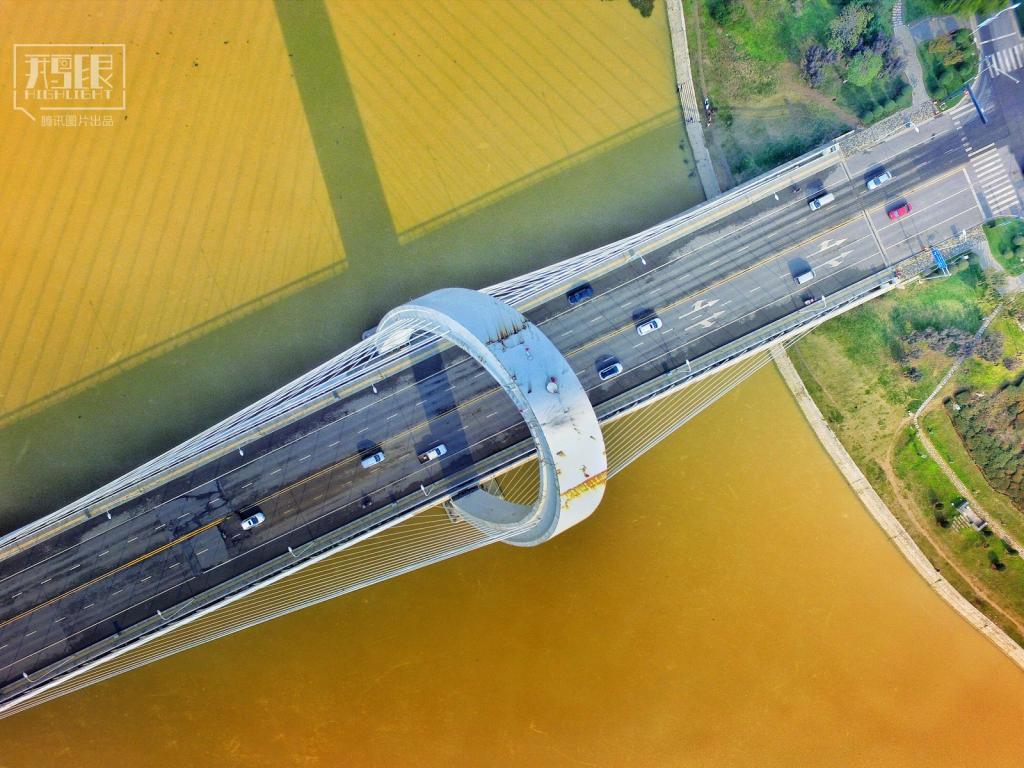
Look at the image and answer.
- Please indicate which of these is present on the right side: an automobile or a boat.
automobile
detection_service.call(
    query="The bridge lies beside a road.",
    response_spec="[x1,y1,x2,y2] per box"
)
[0,134,917,713]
